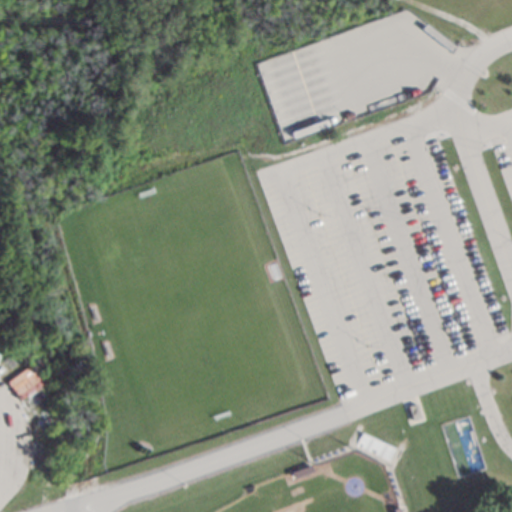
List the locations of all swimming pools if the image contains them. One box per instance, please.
[442,415,487,478]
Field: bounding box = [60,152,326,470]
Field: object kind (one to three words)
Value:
soccer field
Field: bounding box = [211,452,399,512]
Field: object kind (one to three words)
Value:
baseball field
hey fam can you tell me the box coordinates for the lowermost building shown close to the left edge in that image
[8,368,44,402]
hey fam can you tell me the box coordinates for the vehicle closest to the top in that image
[416,22,456,52]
